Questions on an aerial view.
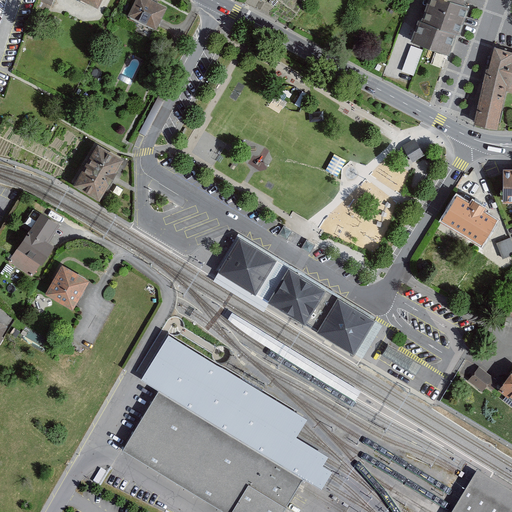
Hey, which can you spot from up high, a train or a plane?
train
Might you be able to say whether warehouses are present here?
Yes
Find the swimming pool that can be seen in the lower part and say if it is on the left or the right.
left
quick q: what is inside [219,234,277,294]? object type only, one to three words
building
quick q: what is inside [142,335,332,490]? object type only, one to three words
warehouse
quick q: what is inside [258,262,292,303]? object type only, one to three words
building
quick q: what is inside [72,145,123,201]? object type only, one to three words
house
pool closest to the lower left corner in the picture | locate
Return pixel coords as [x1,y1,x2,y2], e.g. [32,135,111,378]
[21,330,45,352]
